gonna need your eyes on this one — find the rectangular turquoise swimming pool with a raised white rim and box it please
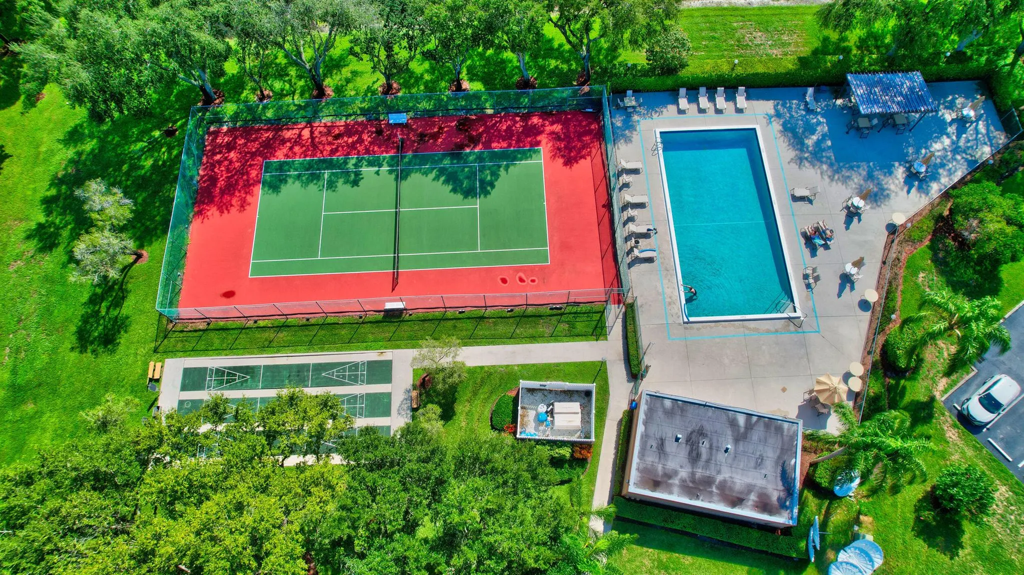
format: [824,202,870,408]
[655,124,801,321]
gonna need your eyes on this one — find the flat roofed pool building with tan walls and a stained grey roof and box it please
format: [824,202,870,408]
[624,390,802,528]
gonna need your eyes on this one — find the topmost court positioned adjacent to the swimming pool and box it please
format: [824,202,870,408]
[175,108,622,323]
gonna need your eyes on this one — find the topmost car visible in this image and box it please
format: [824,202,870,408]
[960,378,1024,428]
